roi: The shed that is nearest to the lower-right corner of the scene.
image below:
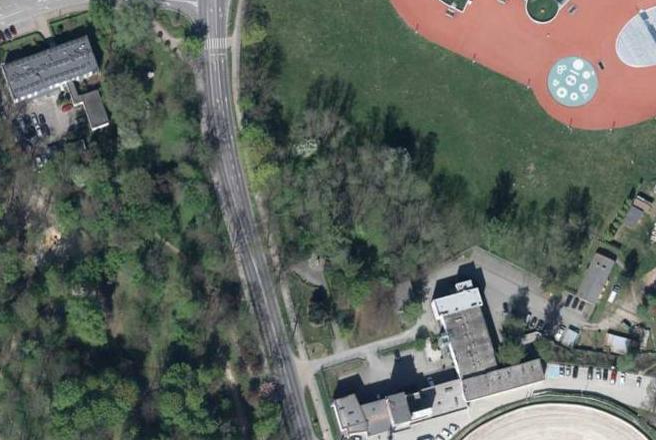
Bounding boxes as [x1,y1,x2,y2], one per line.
[606,334,628,355]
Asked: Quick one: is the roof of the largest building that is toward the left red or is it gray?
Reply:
gray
